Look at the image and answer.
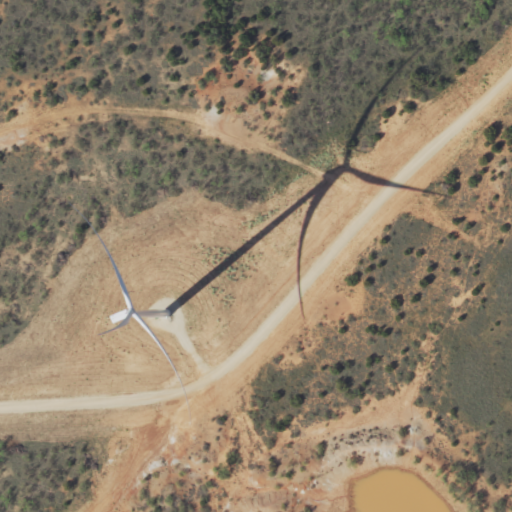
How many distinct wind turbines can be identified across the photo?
one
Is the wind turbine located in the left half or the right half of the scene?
left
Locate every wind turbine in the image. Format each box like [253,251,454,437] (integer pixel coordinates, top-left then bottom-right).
[80,215,186,410]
